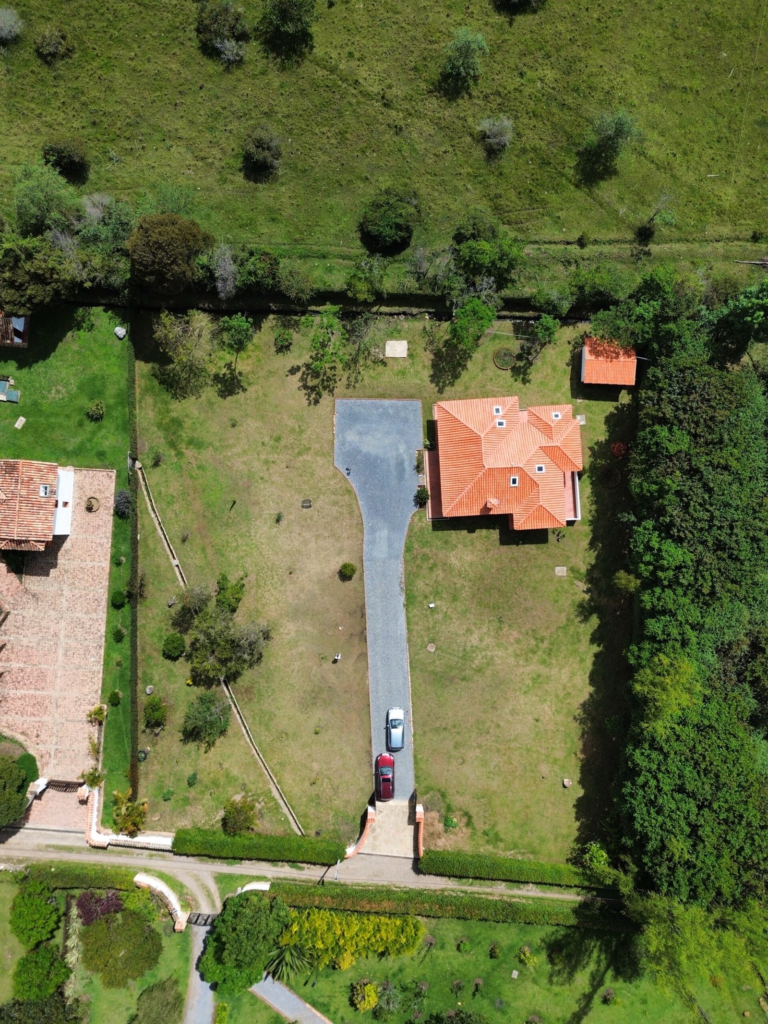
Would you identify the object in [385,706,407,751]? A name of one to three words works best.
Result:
car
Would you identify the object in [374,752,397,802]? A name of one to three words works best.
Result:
car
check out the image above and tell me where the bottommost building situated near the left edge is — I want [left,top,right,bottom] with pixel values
[0,459,77,551]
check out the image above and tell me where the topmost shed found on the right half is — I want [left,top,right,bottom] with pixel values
[576,338,650,386]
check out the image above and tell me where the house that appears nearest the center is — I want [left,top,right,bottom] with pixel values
[423,395,584,530]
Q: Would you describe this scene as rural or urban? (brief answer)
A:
rural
